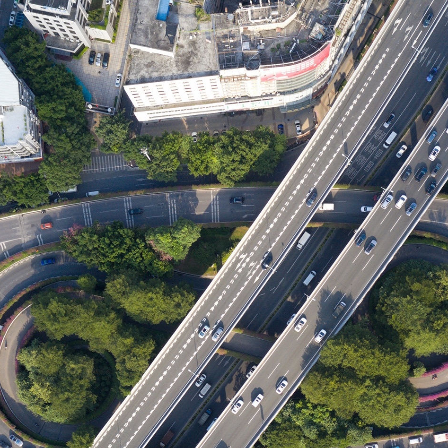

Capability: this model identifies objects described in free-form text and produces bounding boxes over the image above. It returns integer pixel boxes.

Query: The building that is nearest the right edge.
[125,0,364,121]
